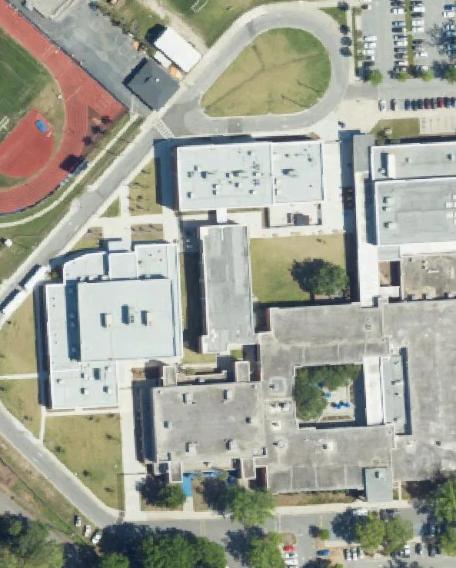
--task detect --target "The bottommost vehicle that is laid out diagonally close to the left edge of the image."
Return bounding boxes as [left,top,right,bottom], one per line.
[0,289,26,316]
